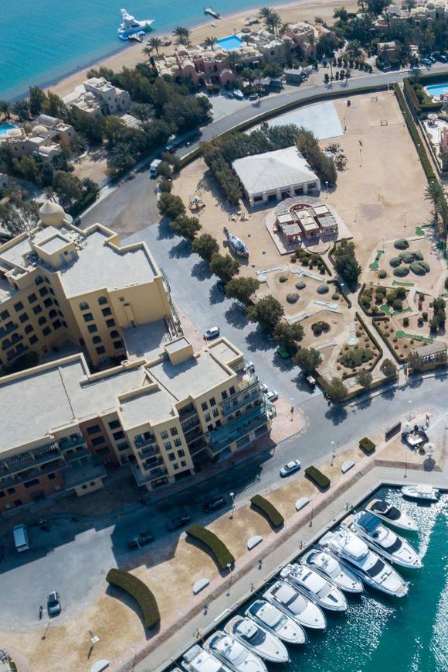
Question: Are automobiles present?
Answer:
Yes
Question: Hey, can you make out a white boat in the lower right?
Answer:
Yes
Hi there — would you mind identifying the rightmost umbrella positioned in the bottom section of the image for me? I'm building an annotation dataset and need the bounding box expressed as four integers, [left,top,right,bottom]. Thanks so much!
[422,440,437,456]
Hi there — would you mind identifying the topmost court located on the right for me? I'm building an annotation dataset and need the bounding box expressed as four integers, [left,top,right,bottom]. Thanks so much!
[259,100,343,140]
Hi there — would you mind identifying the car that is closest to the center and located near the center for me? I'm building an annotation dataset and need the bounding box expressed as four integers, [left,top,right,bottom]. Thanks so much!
[201,326,221,339]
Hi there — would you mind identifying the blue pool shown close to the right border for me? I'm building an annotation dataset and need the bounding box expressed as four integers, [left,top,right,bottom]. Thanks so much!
[423,83,448,99]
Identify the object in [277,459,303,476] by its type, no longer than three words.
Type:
car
